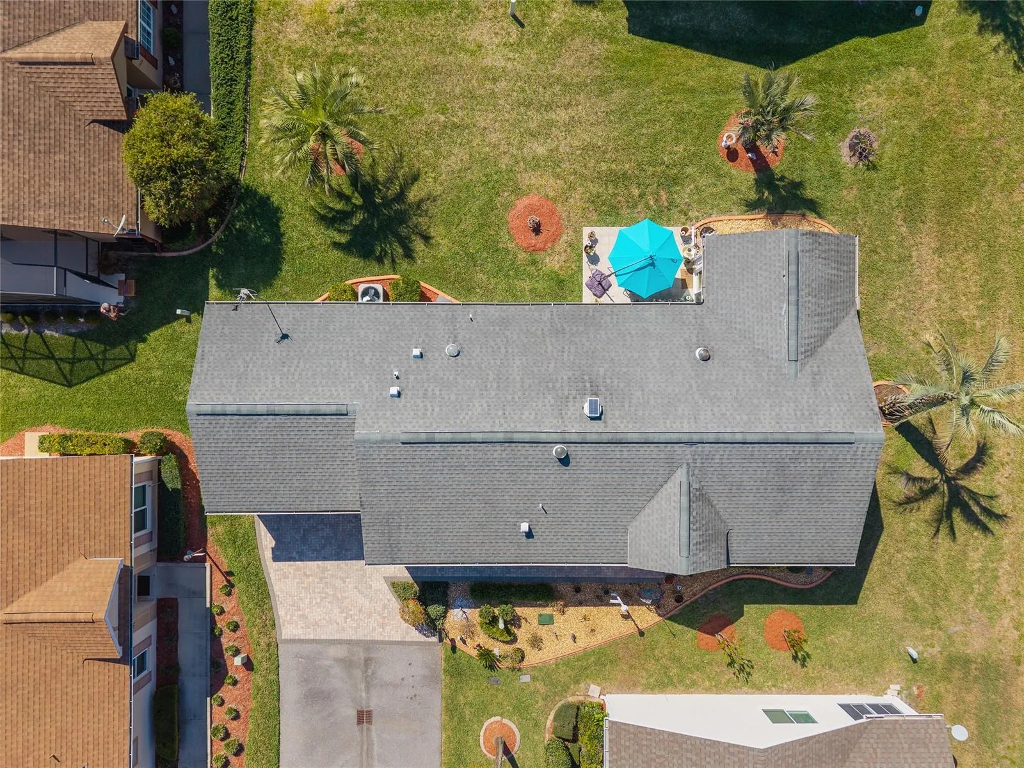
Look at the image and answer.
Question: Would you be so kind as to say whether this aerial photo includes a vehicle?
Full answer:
No, I find no vehicle anywhere in the image.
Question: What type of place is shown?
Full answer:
It's a residential area.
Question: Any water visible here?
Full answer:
No, the picture contains no water.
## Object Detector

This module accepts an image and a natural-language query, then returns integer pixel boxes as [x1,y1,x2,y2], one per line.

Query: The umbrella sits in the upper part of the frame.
[584,218,684,299]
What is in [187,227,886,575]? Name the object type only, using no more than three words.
house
